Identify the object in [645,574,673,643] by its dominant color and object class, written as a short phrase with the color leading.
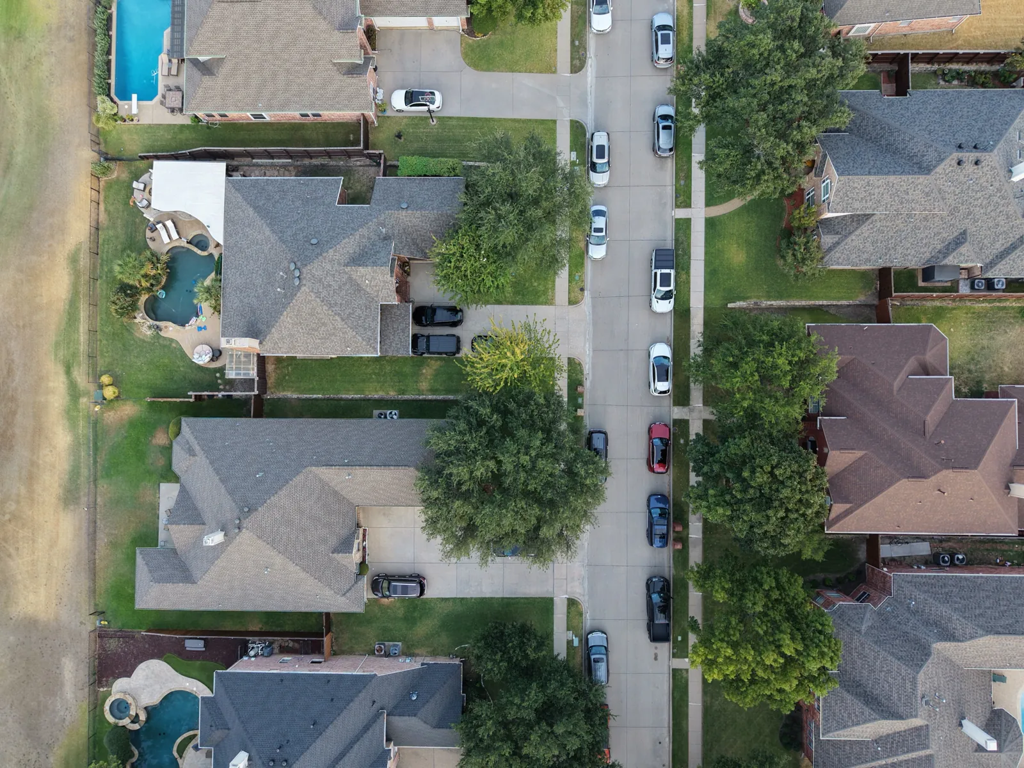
black truck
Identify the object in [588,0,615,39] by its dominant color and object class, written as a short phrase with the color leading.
white car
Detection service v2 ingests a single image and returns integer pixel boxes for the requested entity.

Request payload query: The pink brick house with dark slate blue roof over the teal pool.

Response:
[198,654,466,768]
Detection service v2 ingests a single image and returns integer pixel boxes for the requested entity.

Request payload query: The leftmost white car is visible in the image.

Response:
[391,87,443,115]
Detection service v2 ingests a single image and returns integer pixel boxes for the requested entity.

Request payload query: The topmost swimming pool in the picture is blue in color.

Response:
[111,0,176,104]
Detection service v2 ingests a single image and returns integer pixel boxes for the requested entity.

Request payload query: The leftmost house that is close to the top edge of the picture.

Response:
[184,0,470,125]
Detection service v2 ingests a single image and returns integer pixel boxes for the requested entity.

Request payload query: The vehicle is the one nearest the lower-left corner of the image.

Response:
[371,572,427,600]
